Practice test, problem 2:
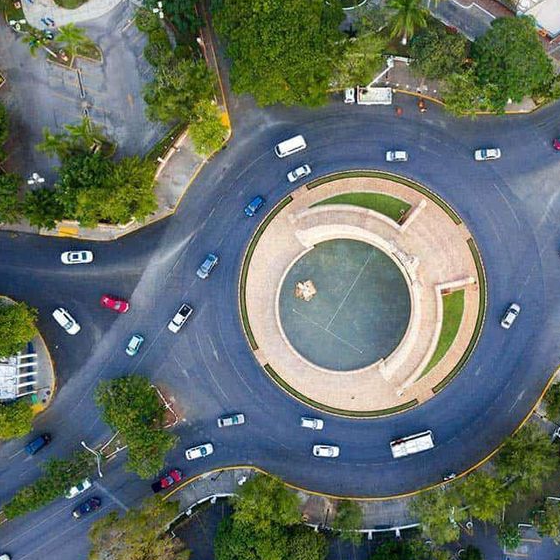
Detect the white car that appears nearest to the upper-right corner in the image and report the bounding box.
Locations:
[473,147,500,161]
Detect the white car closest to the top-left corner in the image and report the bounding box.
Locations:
[61,249,94,264]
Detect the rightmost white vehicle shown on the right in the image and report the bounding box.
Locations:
[500,301,519,330]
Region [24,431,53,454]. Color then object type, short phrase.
blue car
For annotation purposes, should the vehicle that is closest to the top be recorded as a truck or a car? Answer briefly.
truck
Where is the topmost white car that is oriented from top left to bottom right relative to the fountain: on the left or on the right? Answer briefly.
left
